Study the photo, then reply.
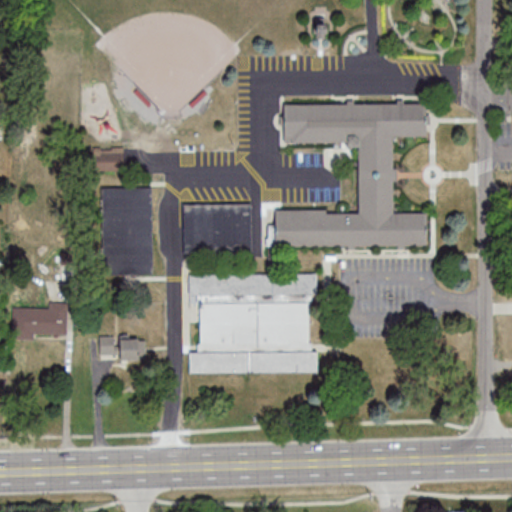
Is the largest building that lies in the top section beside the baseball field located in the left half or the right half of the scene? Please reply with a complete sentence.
The largest building that lies in the top section beside the baseball field sits on the right side.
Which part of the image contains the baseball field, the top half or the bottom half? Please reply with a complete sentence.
You can find the baseball field in the top half.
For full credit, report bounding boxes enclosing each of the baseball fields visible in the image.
[68,0,275,126]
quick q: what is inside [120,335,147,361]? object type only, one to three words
house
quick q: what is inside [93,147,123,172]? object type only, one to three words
building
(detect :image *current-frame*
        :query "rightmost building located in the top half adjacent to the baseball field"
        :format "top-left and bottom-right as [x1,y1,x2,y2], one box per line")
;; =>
[266,99,428,247]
